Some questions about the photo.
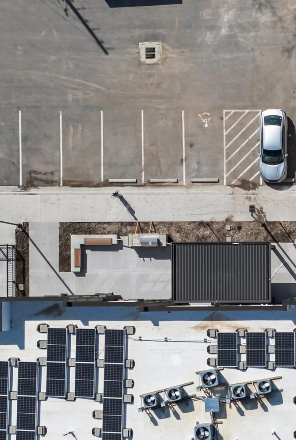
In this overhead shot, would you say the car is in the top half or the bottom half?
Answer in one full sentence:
You can find the car in the top half.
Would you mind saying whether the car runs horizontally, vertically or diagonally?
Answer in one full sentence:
The car is laid out vertically.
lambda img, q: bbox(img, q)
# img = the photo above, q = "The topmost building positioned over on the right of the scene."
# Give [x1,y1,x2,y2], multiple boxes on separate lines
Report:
[172,243,273,303]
